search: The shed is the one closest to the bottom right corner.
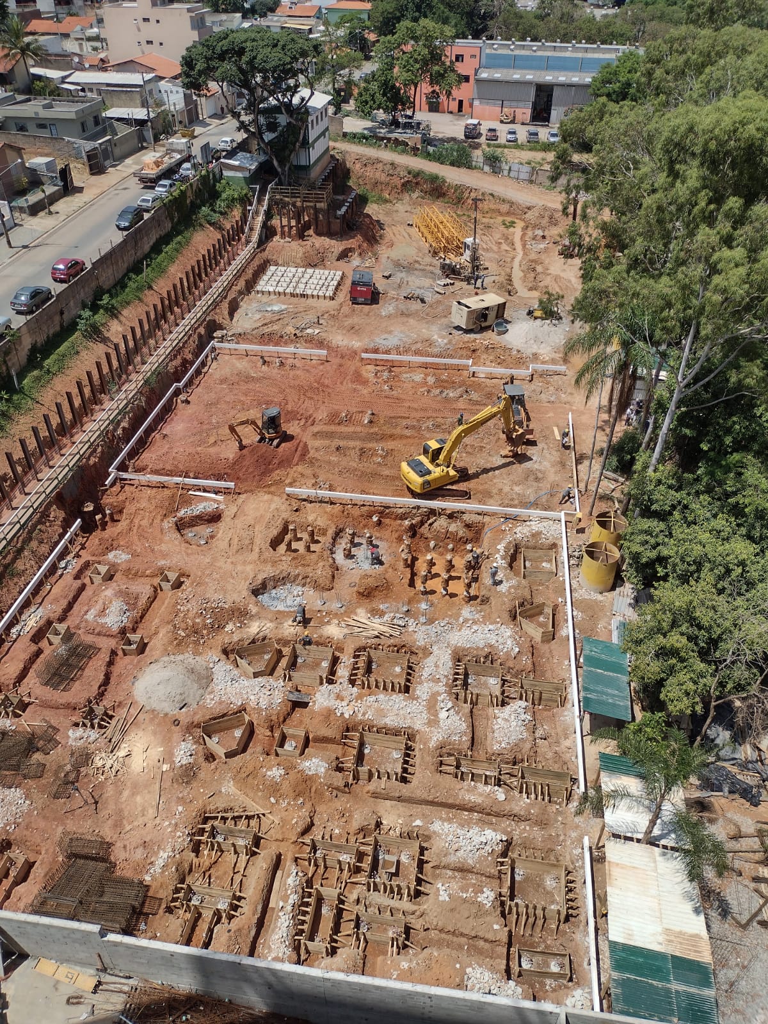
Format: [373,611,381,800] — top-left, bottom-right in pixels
[596,838,716,1024]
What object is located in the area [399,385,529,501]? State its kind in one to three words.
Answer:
work vehicle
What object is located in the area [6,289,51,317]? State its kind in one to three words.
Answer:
car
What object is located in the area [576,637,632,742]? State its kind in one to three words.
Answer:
shed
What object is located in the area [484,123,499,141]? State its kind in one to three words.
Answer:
vehicle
